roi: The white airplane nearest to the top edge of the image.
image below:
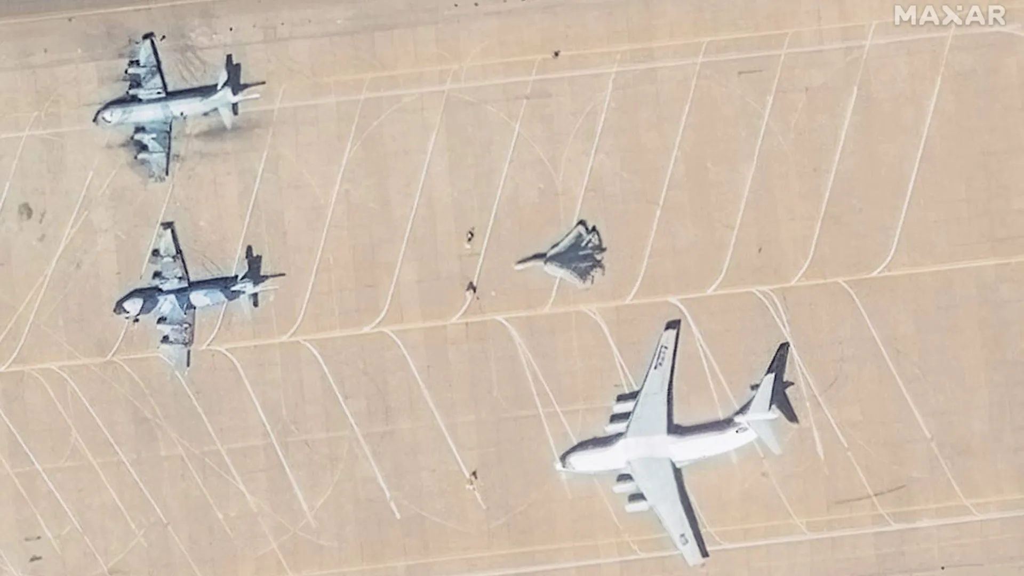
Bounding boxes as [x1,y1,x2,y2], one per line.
[97,39,261,182]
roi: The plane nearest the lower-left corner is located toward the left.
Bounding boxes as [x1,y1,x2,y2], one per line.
[118,231,282,374]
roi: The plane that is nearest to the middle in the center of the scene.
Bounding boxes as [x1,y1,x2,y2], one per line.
[514,226,603,286]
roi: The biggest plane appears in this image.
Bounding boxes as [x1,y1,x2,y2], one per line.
[554,328,785,565]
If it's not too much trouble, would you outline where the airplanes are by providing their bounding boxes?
[118,231,282,374]
[514,226,603,286]
[97,39,261,182]
[554,328,785,565]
